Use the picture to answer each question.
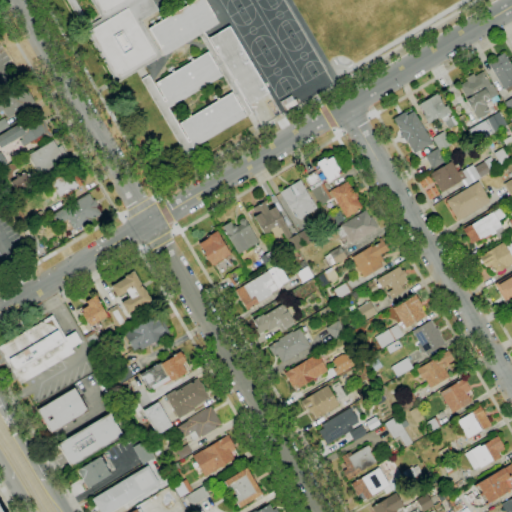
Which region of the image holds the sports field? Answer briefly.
top right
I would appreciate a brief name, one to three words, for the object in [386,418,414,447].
building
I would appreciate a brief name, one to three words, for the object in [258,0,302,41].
basketball court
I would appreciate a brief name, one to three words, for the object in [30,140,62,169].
house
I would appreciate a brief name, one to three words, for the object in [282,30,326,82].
basketball court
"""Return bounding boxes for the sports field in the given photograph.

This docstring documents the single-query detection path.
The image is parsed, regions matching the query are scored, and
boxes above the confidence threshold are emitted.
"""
[298,0,456,61]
